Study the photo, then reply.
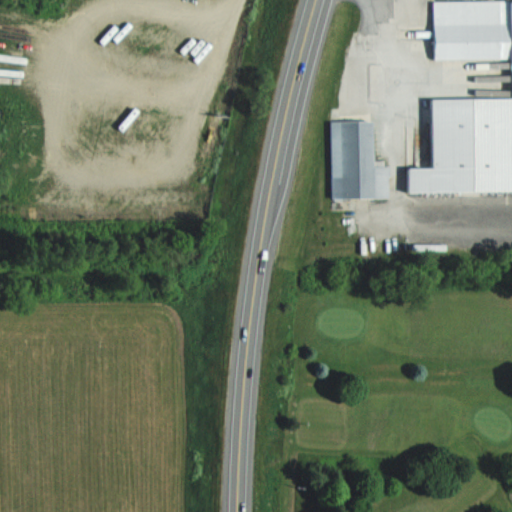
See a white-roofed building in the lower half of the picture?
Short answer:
No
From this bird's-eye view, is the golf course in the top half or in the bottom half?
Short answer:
bottom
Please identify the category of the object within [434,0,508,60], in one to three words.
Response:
building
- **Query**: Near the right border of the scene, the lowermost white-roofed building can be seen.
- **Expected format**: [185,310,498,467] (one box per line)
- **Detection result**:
[408,96,512,194]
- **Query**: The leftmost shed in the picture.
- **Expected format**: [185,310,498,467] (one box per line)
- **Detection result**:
[331,122,388,198]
